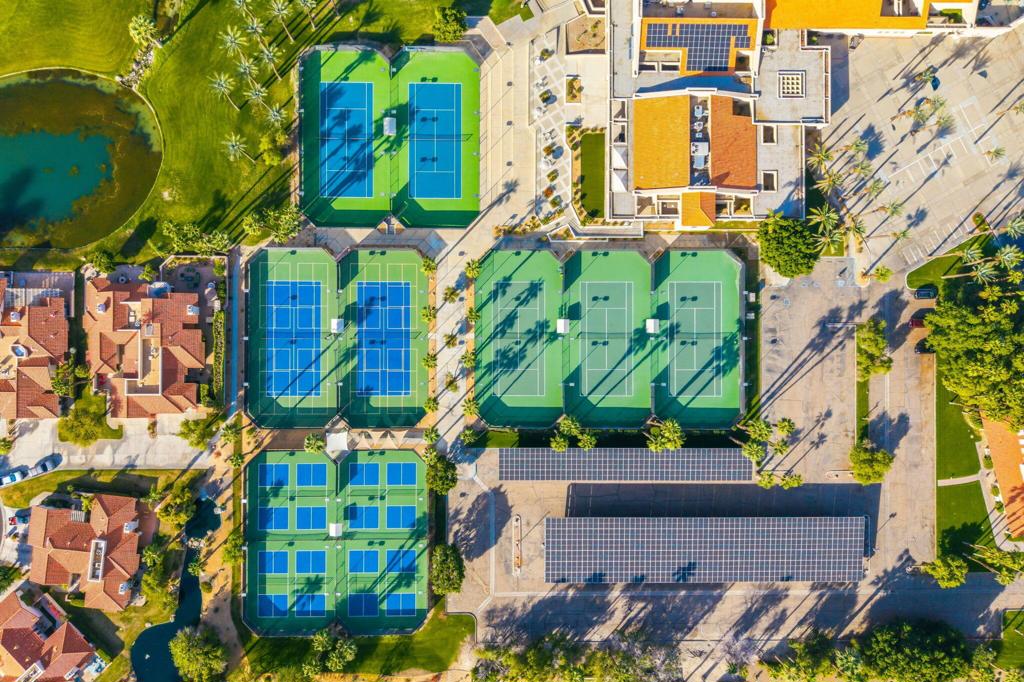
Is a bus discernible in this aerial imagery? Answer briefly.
No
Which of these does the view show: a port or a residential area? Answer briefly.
residential area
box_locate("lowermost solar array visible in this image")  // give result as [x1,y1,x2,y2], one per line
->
[545,517,865,583]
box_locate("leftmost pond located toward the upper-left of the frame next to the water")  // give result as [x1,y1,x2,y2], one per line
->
[0,68,163,249]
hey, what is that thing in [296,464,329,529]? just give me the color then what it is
blue sports court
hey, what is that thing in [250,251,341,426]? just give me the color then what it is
blue tennis court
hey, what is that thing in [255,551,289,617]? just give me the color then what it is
blue sports court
